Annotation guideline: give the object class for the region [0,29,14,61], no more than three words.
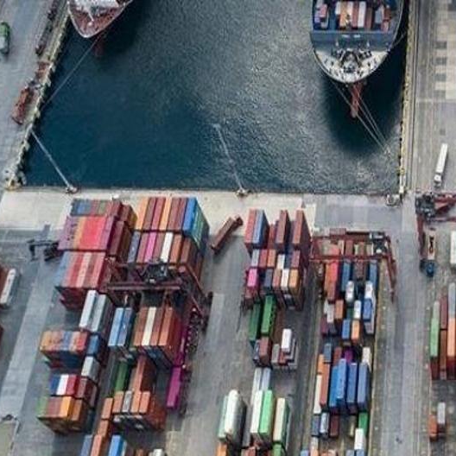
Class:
vehicle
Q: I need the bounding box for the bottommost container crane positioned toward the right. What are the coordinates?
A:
[306,229,393,294]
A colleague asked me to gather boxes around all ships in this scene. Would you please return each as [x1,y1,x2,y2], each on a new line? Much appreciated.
[309,0,410,125]
[75,0,145,64]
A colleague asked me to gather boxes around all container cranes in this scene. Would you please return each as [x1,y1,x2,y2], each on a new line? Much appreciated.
[100,258,211,323]
[306,229,393,294]
[416,196,456,258]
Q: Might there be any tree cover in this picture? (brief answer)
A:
No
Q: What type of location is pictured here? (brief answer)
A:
port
